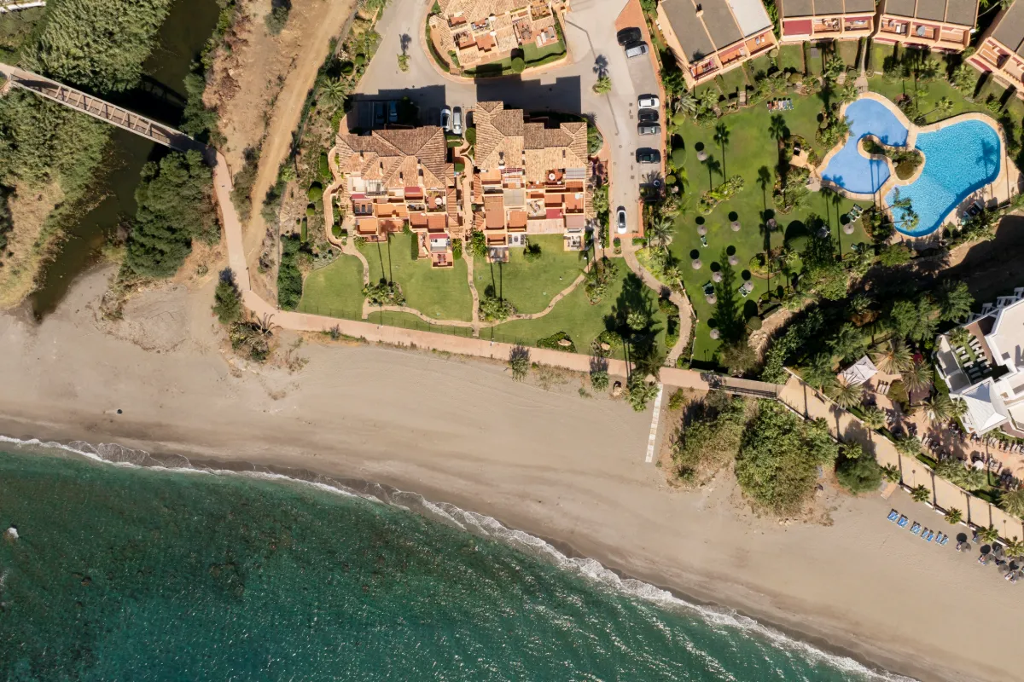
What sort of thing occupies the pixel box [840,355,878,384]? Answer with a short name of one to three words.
gazebo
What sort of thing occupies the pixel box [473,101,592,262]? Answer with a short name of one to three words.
house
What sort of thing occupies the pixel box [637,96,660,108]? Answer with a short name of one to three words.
vehicle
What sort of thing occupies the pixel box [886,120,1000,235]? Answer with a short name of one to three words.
swimming pool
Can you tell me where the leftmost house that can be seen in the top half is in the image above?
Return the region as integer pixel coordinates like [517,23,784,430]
[335,124,463,267]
